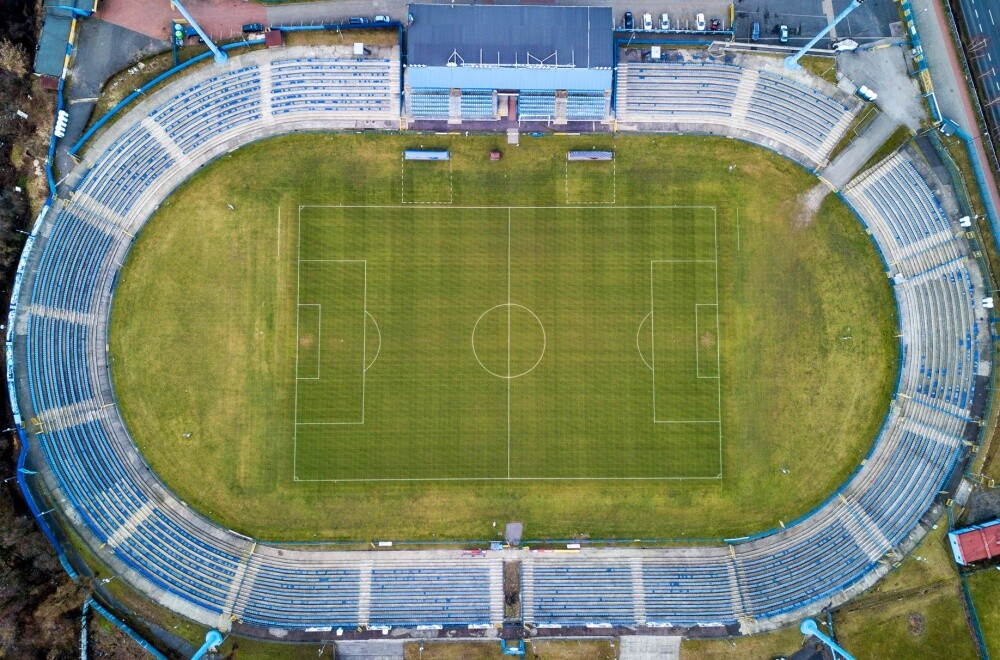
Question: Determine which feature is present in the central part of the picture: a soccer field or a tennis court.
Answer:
soccer field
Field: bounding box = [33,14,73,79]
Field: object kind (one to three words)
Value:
building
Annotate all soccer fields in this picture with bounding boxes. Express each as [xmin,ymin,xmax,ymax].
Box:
[278,153,739,488]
